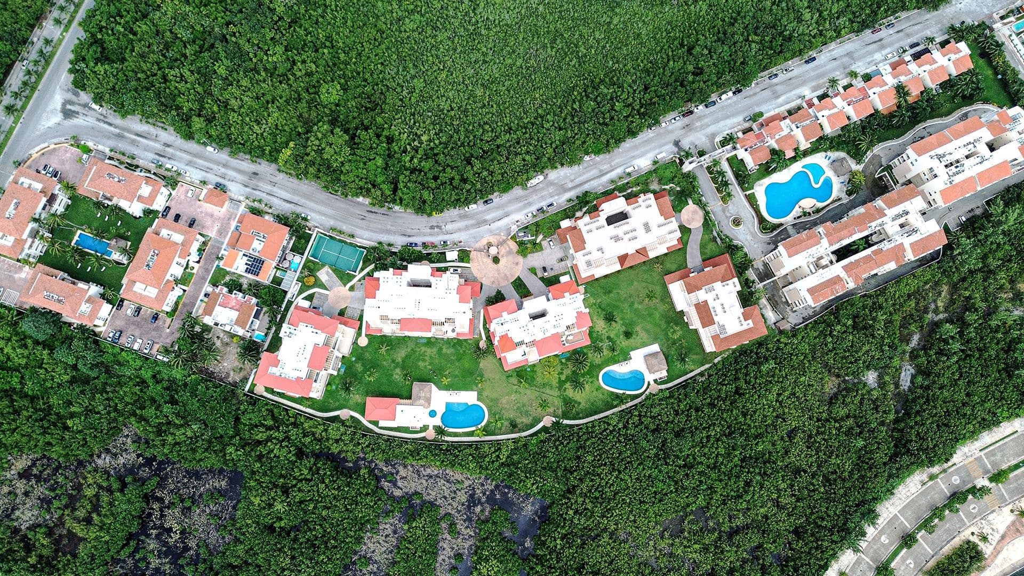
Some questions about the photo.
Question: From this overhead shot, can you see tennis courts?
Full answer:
Yes, this view includes a tennis court.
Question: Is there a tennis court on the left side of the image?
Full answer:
Yes, you'll find a tennis court on the left side of the image.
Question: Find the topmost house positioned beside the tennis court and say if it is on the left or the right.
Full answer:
It is on the left.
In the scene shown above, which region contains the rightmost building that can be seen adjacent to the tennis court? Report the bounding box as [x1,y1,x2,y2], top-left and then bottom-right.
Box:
[365,265,481,339]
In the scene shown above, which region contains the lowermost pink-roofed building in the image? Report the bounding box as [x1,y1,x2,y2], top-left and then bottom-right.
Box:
[364,396,424,421]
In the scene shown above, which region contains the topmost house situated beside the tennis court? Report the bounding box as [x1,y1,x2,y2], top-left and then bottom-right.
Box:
[223,214,291,263]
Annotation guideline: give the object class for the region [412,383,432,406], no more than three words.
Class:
building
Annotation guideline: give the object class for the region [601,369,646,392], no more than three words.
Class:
swimming pool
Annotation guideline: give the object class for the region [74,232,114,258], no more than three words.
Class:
swimming pool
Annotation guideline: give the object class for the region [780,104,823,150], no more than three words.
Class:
house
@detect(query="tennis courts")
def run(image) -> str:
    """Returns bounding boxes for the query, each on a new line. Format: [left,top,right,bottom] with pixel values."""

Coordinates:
[308,233,368,275]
